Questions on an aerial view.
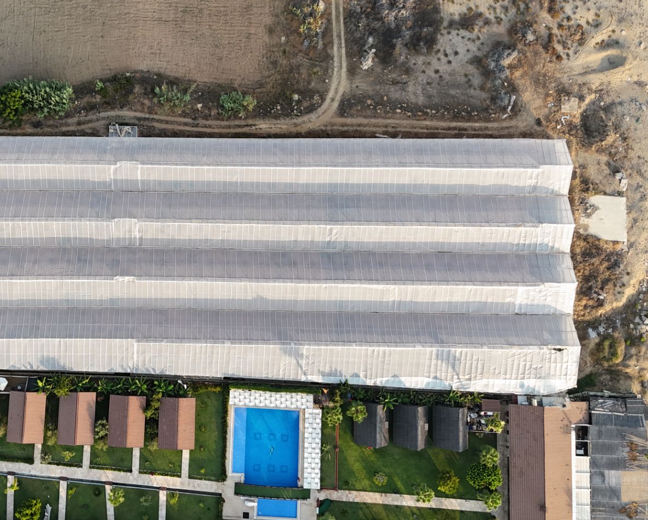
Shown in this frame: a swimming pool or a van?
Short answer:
swimming pool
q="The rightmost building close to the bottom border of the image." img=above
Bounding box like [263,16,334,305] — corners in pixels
[505,402,590,520]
